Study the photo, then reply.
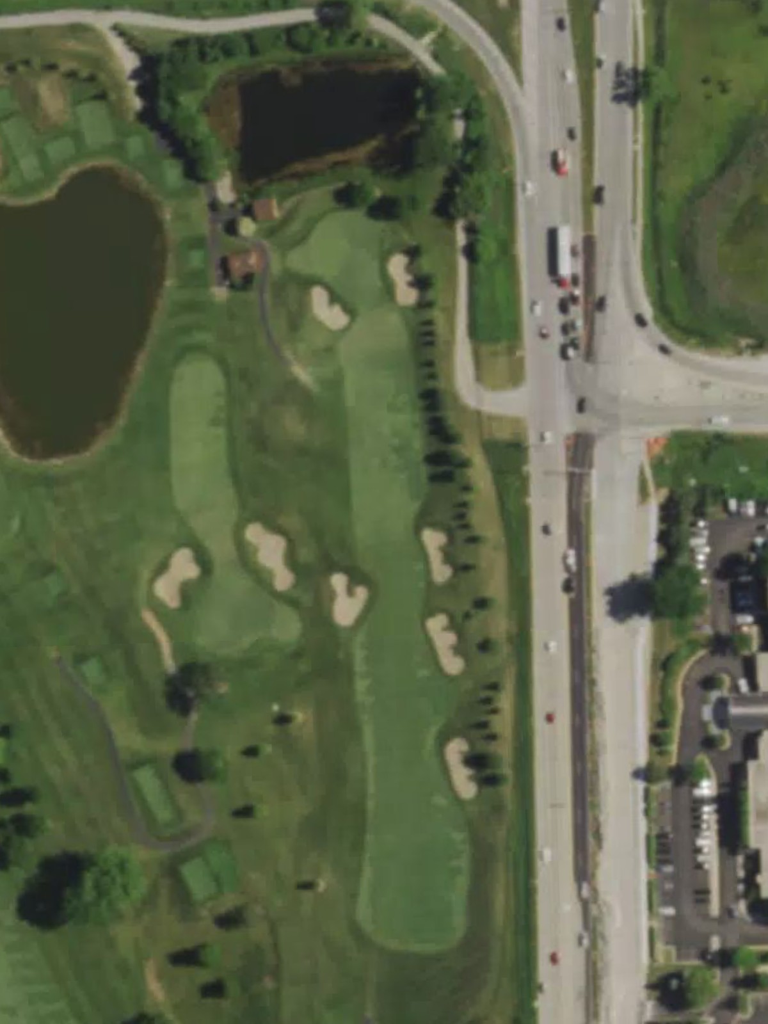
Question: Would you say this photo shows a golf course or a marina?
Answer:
golf course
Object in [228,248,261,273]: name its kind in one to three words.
shed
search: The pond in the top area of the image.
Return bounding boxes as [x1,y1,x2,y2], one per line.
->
[238,66,423,182]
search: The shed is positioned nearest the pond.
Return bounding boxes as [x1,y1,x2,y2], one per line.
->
[253,198,274,219]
